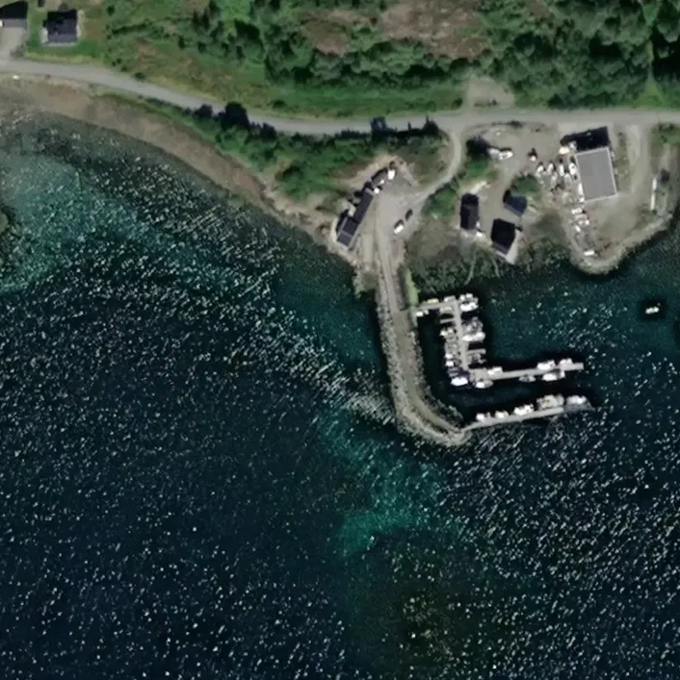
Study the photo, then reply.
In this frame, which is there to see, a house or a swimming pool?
house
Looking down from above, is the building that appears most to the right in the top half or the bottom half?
top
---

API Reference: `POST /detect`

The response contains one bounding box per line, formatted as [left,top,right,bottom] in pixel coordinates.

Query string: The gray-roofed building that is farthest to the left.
[0,15,29,29]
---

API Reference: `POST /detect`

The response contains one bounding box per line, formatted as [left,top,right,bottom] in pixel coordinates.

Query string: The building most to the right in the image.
[575,147,617,202]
